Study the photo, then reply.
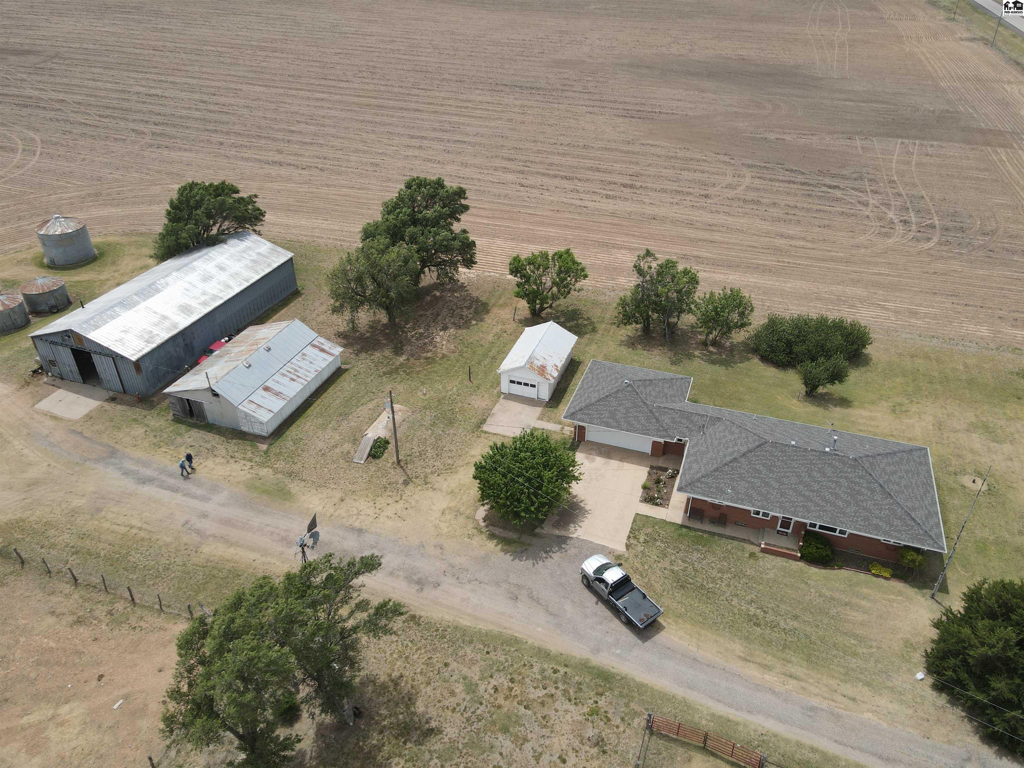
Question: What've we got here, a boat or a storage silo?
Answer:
storage silo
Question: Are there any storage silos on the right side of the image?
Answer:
No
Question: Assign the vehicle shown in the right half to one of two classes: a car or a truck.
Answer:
truck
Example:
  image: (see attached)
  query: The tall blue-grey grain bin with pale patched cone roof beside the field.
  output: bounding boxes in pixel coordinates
[34,213,95,261]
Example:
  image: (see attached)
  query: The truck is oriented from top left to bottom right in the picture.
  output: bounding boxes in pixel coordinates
[580,558,666,632]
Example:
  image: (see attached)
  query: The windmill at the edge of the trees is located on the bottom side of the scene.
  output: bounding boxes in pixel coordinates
[292,513,323,574]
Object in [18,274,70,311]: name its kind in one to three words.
silo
